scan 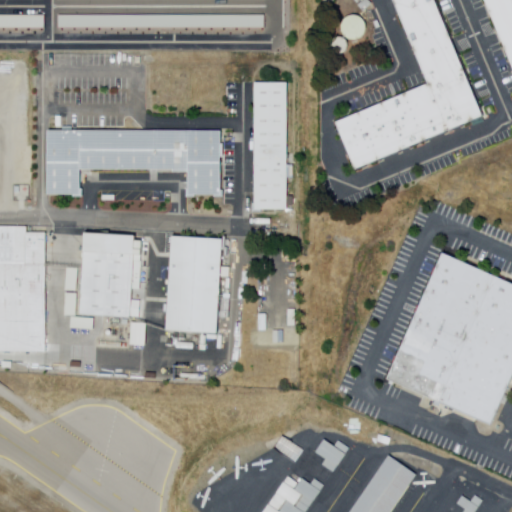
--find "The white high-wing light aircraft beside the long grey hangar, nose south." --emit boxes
[412,470,436,488]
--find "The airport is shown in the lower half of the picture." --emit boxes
[0,383,512,512]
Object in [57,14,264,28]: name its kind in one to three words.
building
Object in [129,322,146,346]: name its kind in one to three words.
building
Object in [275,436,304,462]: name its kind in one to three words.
hangar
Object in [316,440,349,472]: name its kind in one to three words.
hangar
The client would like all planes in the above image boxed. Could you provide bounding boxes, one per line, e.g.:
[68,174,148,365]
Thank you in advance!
[195,488,210,508]
[252,459,273,474]
[208,466,226,485]
[232,456,249,480]
[412,470,436,488]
